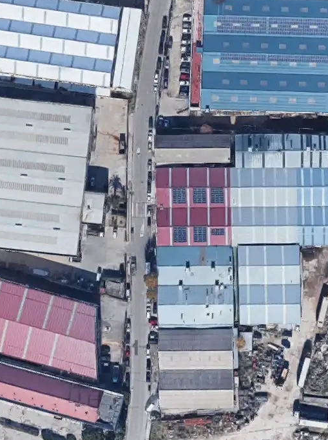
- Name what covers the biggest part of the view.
buildings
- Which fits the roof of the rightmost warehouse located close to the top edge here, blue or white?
blue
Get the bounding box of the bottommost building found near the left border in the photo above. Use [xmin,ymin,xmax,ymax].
[0,362,104,424]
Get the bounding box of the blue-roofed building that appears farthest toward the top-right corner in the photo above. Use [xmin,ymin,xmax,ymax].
[201,0,328,115]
